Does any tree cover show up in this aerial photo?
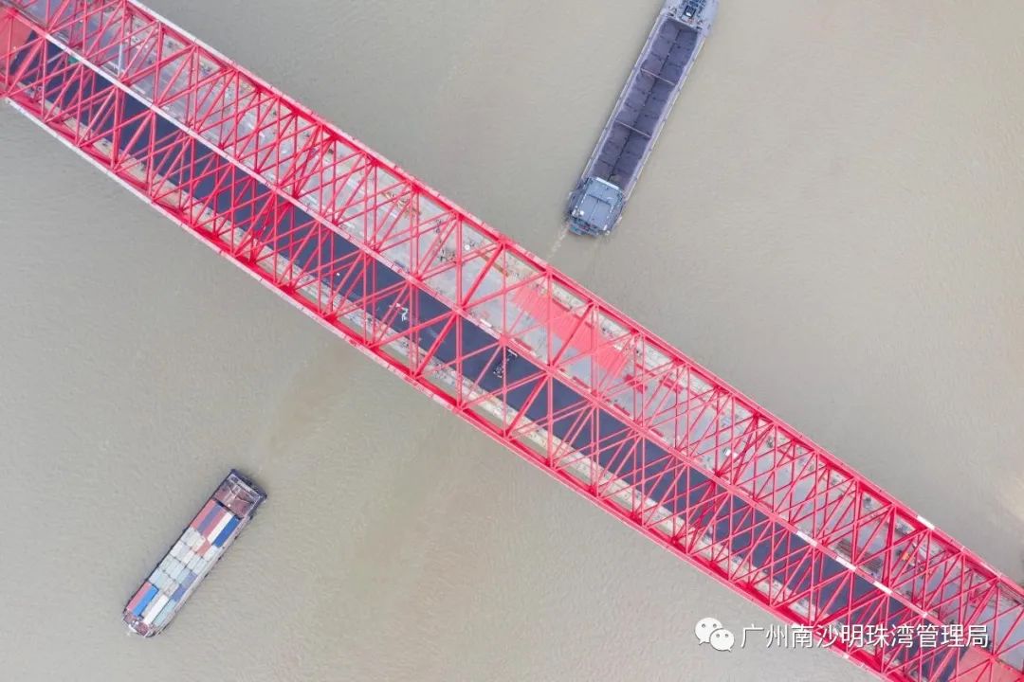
No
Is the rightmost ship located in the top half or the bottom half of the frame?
top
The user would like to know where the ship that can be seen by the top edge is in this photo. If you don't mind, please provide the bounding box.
[563,0,720,243]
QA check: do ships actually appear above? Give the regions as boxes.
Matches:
[126,465,271,639]
[563,0,720,243]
